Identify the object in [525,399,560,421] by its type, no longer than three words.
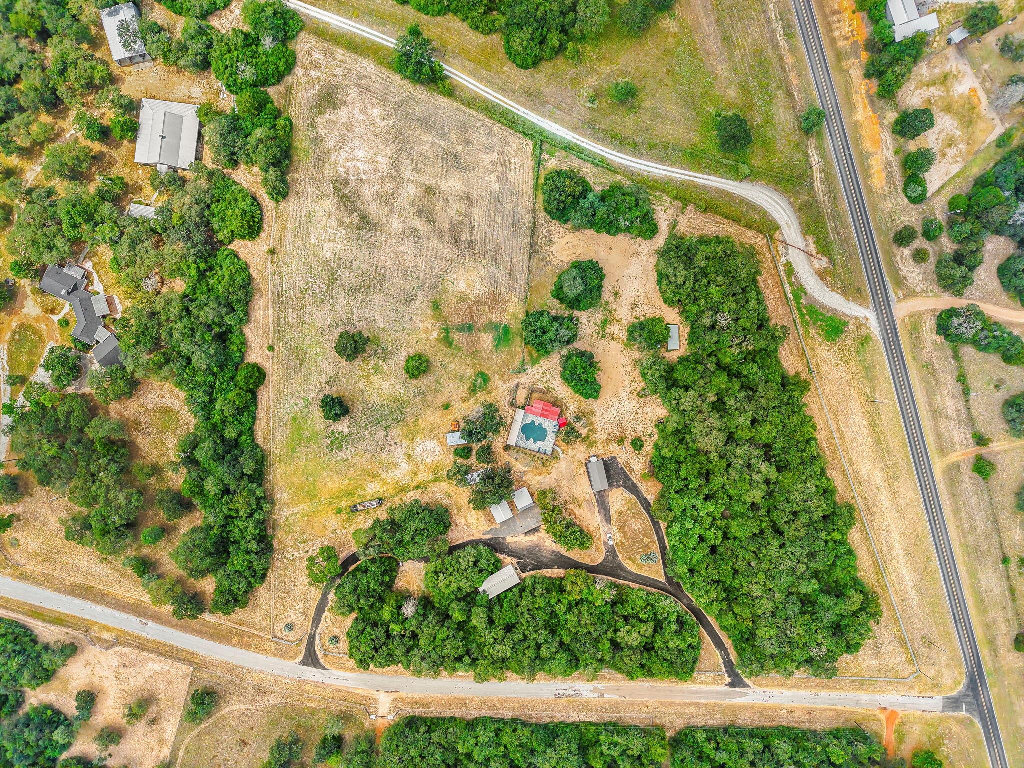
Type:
building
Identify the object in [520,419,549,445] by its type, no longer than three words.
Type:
swimming pool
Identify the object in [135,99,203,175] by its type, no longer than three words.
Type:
house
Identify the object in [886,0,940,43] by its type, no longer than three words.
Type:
house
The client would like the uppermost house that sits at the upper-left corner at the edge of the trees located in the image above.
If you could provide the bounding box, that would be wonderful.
[101,3,153,70]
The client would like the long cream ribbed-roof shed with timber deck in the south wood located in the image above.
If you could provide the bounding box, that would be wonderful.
[478,561,521,600]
